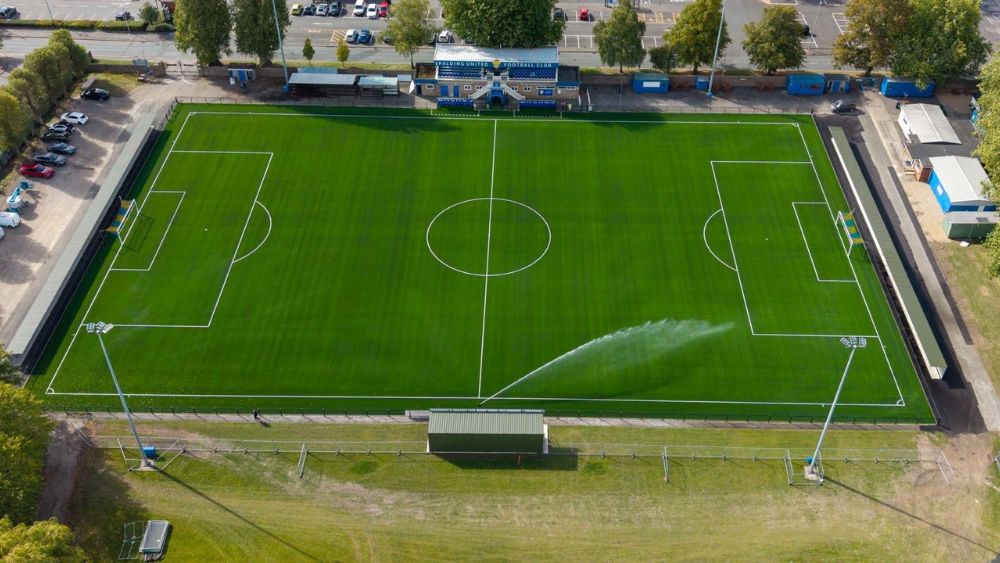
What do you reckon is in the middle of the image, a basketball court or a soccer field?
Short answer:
soccer field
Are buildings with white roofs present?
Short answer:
Yes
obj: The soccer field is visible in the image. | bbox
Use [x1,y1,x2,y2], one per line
[20,104,938,423]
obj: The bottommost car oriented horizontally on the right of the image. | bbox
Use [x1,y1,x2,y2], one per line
[830,100,857,113]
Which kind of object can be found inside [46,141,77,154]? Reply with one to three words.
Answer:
vehicle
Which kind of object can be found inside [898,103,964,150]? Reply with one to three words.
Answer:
building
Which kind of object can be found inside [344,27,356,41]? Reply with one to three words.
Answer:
vehicle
